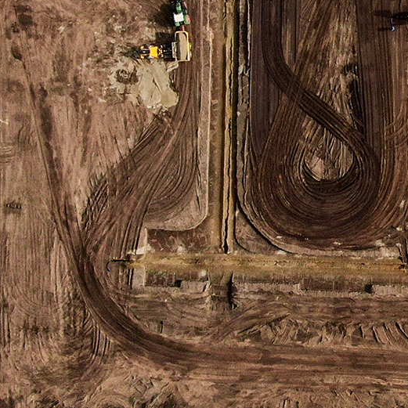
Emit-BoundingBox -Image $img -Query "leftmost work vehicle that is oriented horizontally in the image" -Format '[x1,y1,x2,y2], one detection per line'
[136,44,175,60]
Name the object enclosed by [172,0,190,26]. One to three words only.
work vehicle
